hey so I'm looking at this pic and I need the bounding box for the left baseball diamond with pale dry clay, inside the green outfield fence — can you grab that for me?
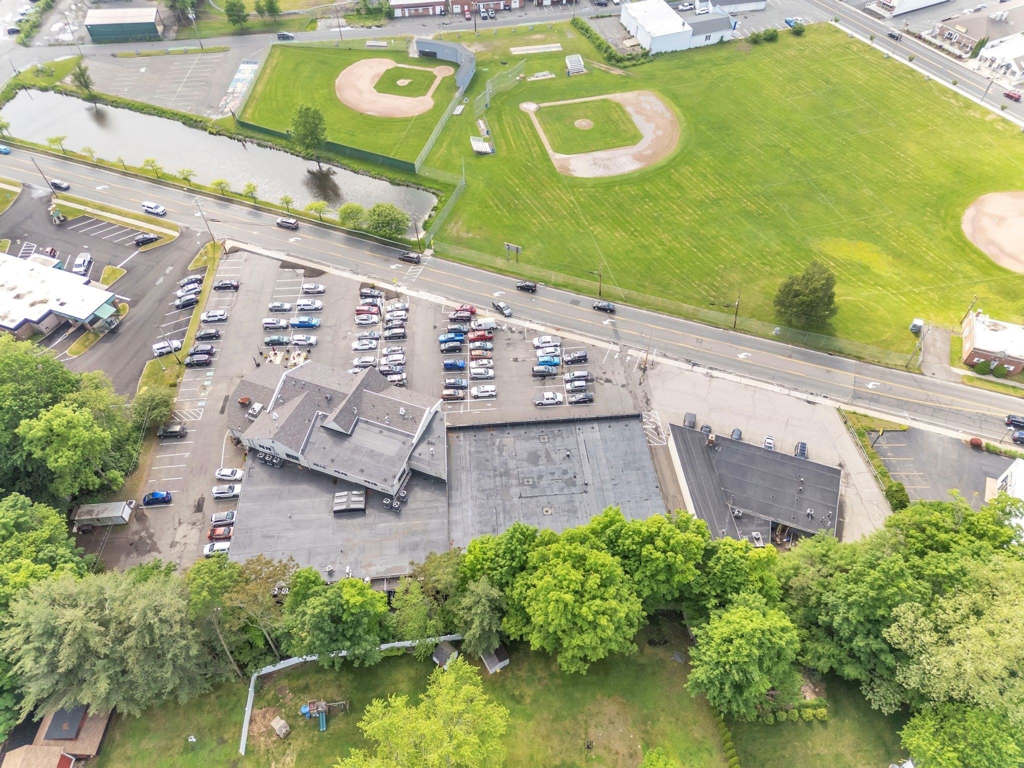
[240,45,461,173]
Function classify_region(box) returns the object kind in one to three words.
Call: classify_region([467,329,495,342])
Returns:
vehicle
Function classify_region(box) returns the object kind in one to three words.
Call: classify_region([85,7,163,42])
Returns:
barn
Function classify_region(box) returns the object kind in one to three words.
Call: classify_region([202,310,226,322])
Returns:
vehicle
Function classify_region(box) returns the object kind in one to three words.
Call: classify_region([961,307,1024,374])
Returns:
building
